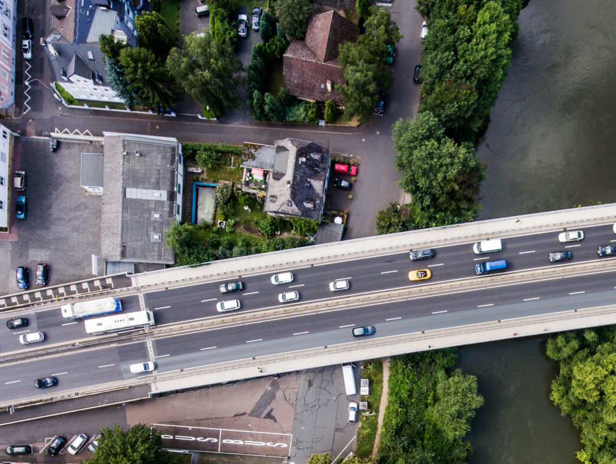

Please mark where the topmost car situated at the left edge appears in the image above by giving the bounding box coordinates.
[20,17,35,40]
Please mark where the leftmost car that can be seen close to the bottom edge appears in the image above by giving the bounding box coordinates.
[5,443,33,456]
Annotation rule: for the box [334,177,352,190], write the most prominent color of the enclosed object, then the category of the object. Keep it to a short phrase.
black vehicle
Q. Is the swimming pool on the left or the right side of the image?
left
